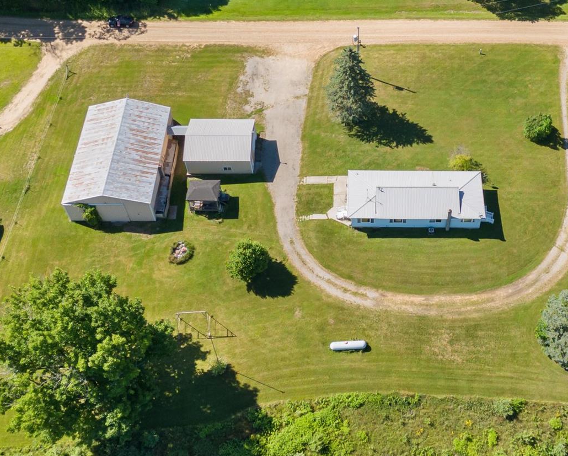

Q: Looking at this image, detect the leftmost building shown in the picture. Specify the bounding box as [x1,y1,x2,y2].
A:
[63,99,173,224]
